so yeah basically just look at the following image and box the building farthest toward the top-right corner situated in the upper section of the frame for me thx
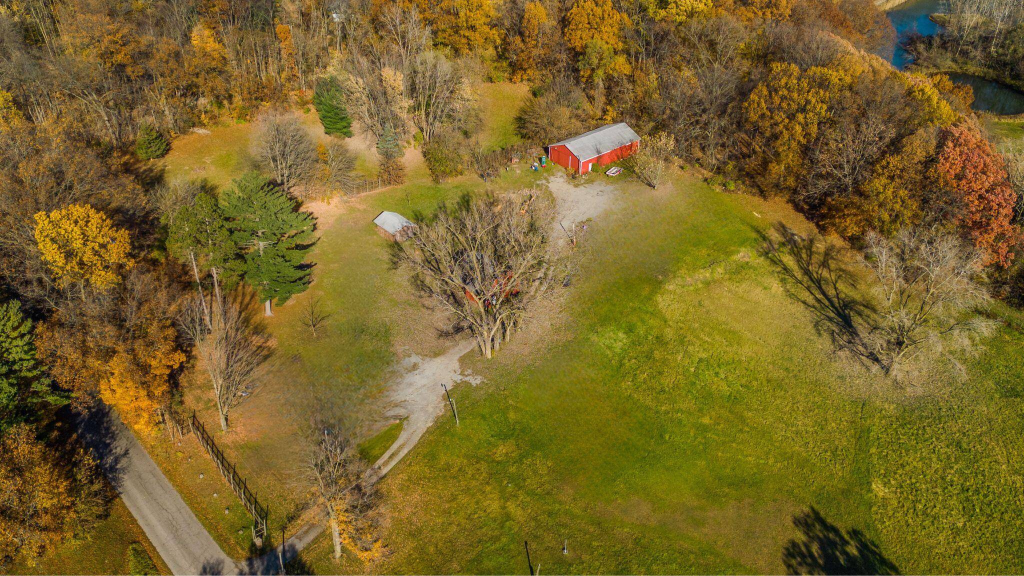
[542,124,645,175]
